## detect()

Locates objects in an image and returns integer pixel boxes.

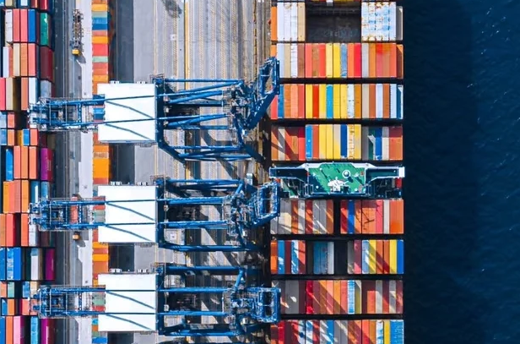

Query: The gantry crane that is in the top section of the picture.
[27,60,279,178]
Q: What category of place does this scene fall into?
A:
port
